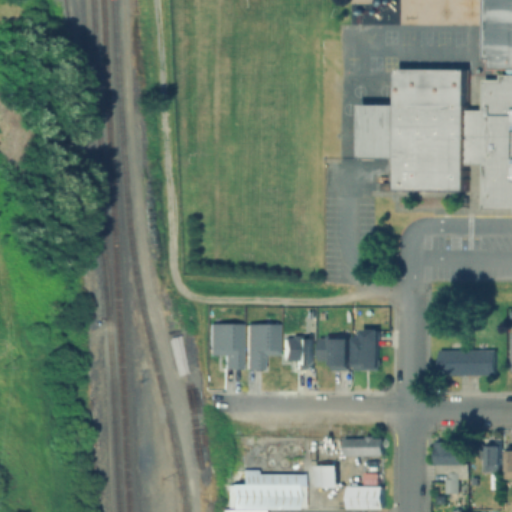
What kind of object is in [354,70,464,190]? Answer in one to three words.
building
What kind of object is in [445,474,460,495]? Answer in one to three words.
building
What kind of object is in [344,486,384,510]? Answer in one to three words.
barn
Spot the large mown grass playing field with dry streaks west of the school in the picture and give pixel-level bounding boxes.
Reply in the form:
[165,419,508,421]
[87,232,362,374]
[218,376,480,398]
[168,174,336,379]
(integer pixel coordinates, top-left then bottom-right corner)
[175,0,342,281]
